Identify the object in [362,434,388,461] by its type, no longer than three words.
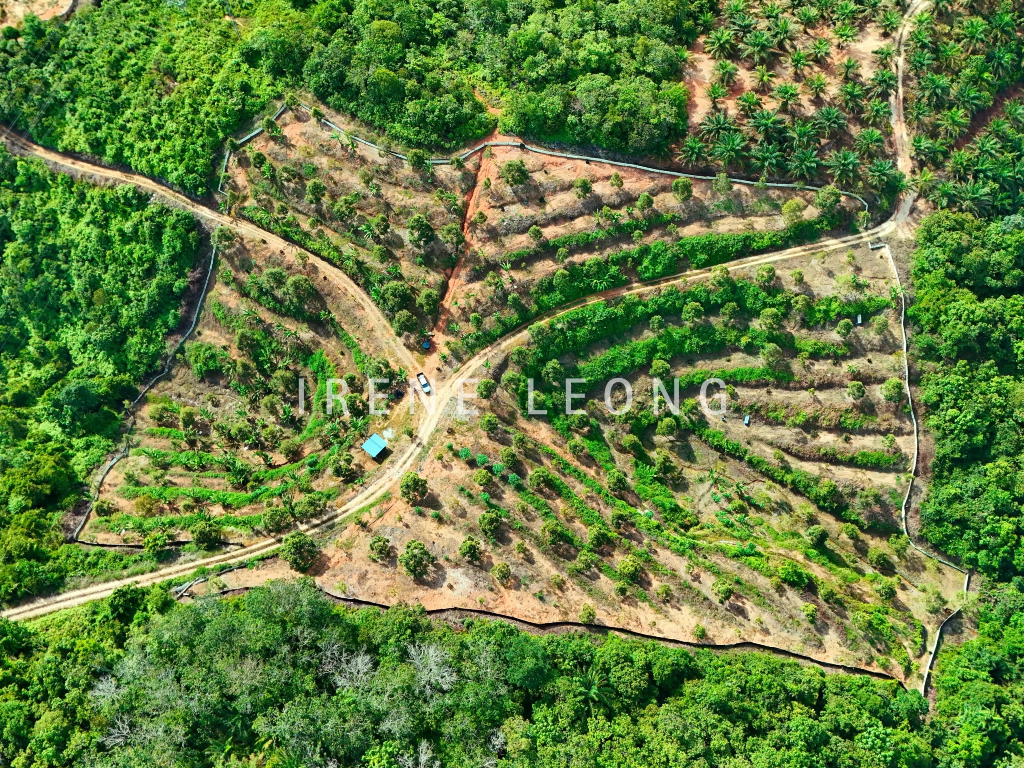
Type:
shed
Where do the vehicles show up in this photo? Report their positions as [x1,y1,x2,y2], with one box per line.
[416,373,431,395]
